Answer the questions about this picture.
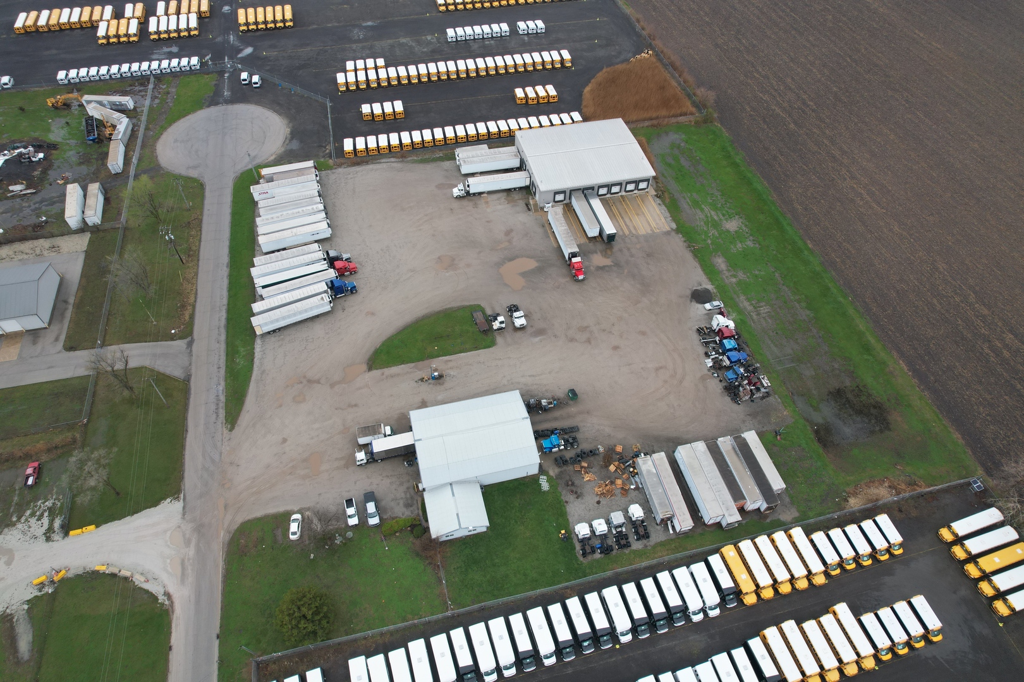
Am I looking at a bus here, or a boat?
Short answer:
bus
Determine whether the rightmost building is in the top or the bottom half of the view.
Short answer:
top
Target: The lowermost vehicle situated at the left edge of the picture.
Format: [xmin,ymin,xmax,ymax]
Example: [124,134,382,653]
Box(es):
[24,464,39,486]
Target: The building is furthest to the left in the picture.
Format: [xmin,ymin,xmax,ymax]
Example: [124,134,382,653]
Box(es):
[0,262,61,335]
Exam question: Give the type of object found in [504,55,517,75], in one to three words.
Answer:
vehicle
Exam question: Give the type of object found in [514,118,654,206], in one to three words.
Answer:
building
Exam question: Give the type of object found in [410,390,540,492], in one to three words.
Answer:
building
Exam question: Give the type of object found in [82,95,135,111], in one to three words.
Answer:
trailer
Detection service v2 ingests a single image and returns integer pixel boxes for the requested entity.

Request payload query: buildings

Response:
[514,118,654,206]
[0,262,61,335]
[410,390,540,492]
